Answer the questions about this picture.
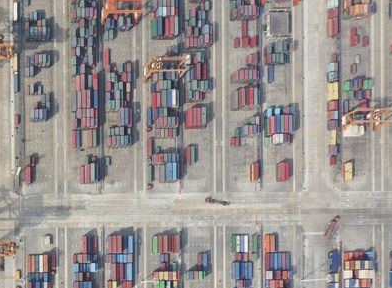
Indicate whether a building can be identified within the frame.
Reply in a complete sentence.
Yes, I can see a building in this picture.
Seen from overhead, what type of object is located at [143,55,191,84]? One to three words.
container crane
